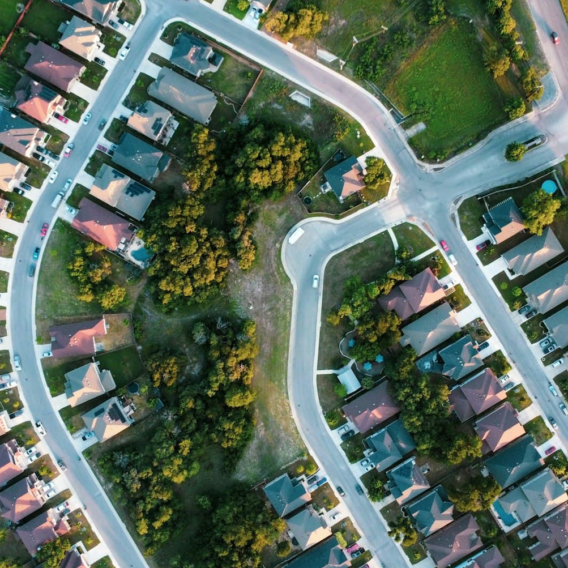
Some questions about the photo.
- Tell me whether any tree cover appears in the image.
Yes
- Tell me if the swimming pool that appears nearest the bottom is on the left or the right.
right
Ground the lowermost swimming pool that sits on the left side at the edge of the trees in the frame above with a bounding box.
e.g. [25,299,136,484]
[128,237,151,270]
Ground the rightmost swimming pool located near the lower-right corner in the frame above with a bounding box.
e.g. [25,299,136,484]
[490,498,521,532]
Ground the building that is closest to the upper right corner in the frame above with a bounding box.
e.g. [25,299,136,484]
[482,195,530,245]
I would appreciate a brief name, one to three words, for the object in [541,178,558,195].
swimming pool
